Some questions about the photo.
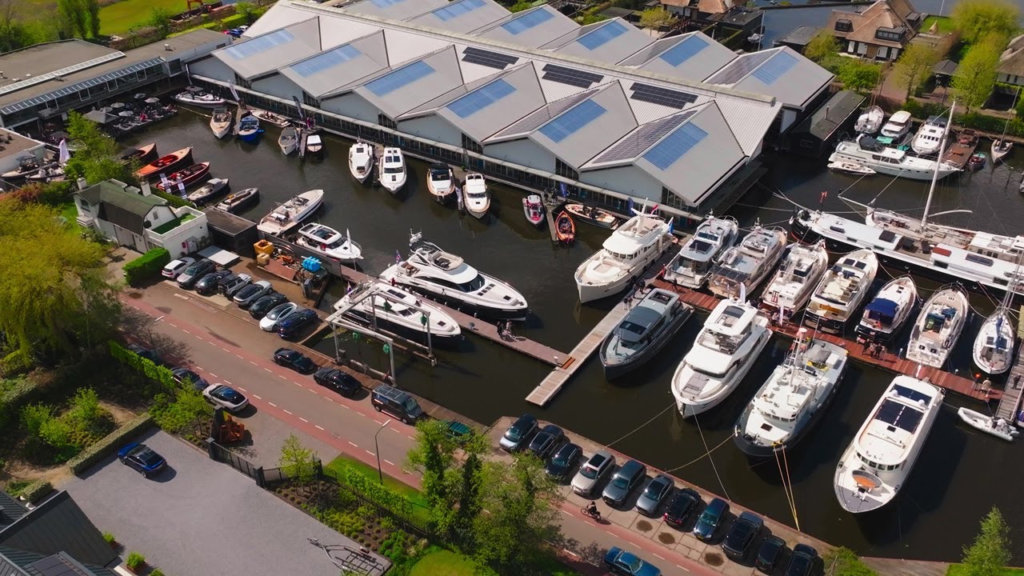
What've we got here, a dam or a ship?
ship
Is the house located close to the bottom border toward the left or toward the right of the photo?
left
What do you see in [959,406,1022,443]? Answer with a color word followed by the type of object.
white boat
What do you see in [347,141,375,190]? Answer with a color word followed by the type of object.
white boat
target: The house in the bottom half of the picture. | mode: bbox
[0,476,125,576]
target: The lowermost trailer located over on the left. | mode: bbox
[310,526,394,576]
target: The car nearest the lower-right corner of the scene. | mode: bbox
[780,537,821,576]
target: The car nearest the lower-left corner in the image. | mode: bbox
[119,444,167,481]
